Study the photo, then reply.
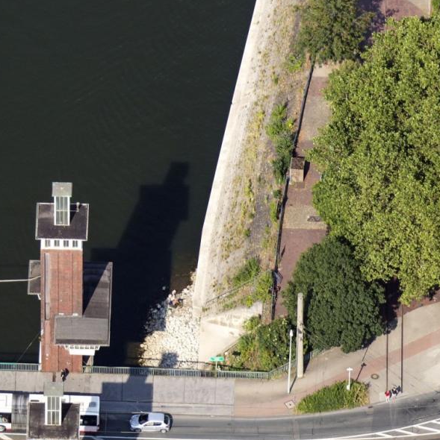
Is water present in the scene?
Yes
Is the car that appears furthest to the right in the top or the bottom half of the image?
bottom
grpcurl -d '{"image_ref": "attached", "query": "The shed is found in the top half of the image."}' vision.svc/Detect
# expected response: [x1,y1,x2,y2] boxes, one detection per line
[289,156,305,182]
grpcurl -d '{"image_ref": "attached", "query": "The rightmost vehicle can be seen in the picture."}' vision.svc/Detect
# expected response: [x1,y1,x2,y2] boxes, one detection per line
[131,410,173,432]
